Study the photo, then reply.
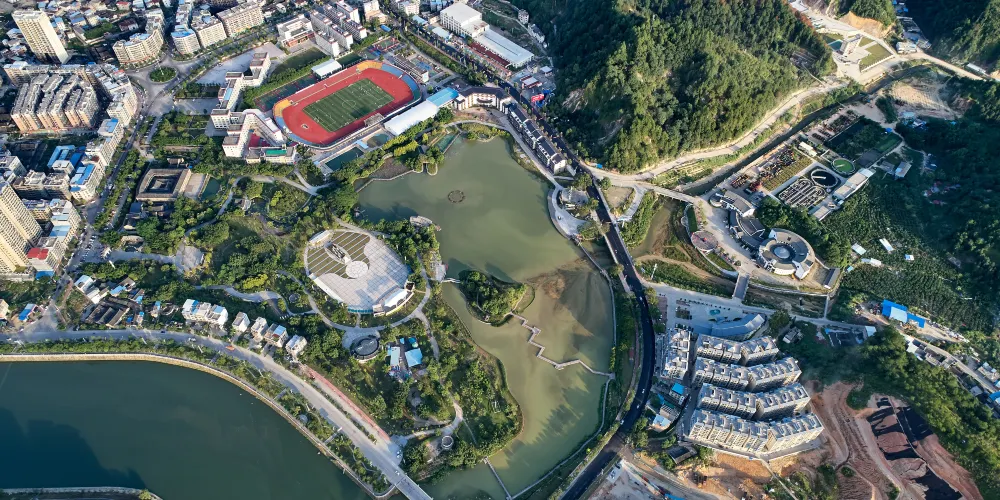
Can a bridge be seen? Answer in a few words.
Yes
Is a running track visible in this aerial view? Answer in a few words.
Yes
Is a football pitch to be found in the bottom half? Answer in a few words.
No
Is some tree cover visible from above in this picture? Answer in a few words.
Yes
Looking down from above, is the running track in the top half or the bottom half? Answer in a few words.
top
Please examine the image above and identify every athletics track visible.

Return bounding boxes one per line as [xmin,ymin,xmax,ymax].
[271,57,420,152]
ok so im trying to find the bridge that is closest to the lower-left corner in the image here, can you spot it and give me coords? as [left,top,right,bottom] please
[389,460,447,500]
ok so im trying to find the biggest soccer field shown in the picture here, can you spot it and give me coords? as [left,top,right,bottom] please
[303,79,396,131]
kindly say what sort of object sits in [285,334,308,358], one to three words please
house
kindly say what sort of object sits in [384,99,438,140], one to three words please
building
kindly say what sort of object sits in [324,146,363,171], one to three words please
swimming pool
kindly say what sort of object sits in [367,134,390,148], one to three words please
swimming pool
